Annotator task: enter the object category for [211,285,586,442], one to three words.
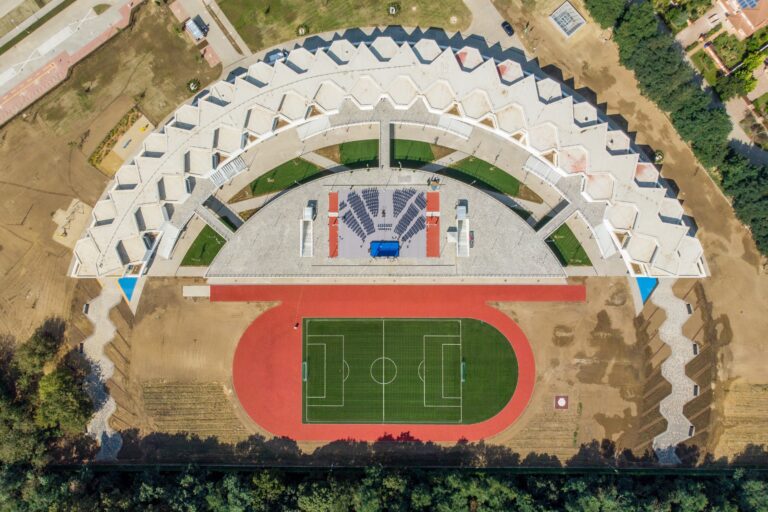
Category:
running track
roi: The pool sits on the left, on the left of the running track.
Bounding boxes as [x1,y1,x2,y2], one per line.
[117,278,137,300]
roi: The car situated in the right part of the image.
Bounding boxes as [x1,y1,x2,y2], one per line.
[502,19,515,35]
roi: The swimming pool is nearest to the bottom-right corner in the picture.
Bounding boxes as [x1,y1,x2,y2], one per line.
[638,278,658,302]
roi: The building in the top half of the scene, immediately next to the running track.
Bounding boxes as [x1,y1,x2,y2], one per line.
[74,37,706,279]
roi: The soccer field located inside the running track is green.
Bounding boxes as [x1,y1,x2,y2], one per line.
[302,318,518,424]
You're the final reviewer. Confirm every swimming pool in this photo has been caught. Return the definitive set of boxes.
[117,278,137,300]
[638,278,658,302]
